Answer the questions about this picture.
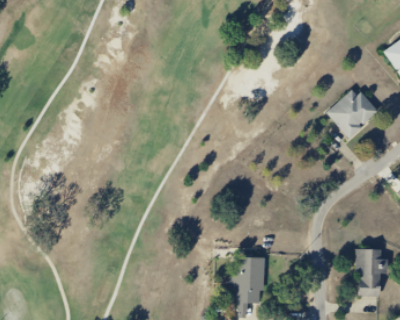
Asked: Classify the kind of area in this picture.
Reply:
golf course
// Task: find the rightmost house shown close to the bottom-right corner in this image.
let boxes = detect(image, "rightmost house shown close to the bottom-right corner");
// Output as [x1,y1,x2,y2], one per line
[356,249,389,296]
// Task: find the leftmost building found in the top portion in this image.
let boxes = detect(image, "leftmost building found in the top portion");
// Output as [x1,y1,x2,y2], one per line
[328,90,378,138]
